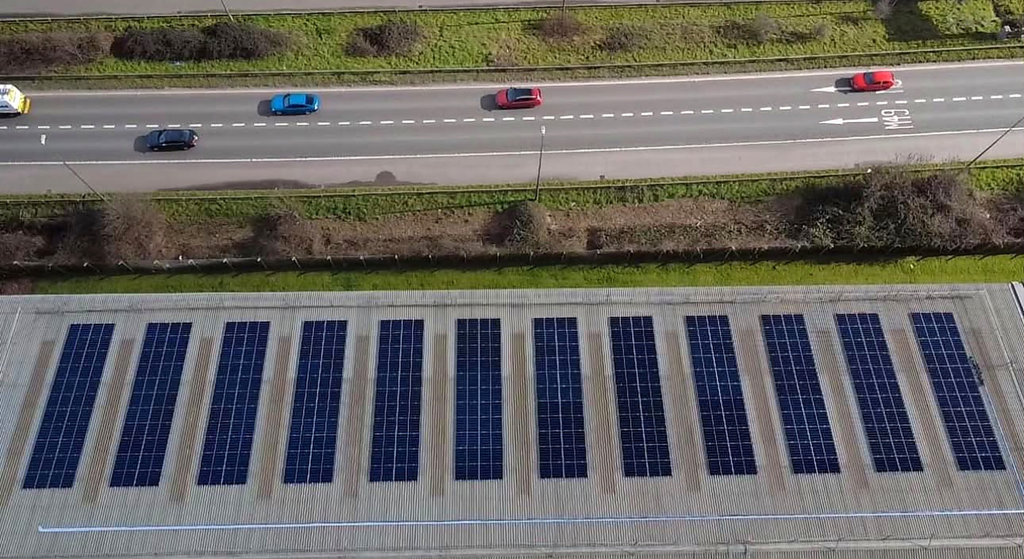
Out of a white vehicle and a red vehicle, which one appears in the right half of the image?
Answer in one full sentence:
There is a red vehicle in the right half of the image.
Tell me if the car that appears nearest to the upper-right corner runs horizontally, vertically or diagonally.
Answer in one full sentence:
Seen from above, the car that appears nearest to the upper-right corner lies horizontally.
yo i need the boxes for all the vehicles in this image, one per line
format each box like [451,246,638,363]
[269,91,321,113]
[0,88,34,117]
[492,84,543,108]
[143,127,201,150]
[846,70,894,91]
